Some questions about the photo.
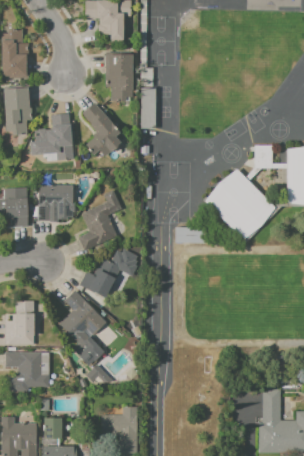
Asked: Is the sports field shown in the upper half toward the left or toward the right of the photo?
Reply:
right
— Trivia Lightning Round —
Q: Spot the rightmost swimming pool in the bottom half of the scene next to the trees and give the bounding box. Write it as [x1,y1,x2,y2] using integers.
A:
[98,349,137,380]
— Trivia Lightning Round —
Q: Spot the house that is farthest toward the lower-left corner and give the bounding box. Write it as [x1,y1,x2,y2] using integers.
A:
[2,418,37,456]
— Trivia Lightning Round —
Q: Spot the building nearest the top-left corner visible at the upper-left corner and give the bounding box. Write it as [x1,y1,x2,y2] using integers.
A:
[2,30,28,79]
